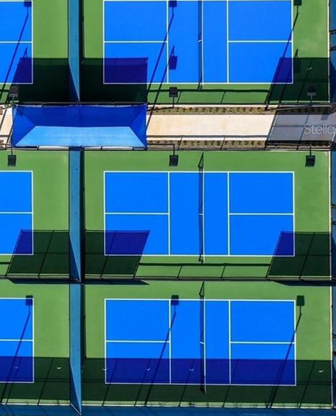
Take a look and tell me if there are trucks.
No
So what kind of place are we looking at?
sports ground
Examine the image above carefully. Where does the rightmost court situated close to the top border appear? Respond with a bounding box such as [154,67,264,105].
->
[81,0,328,102]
